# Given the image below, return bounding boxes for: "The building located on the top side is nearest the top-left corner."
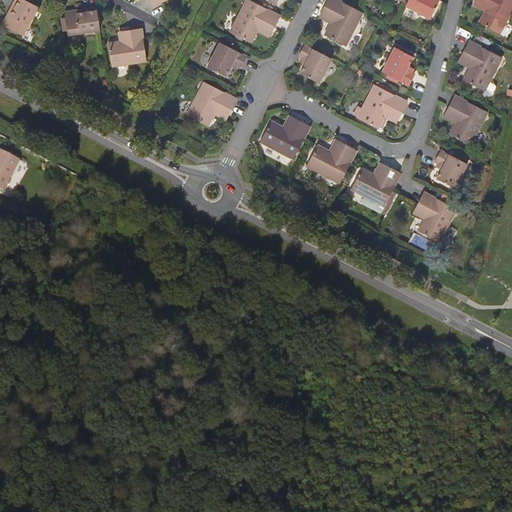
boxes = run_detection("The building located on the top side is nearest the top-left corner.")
[4,0,41,34]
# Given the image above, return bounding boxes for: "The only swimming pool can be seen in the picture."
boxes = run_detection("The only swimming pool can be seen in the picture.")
[409,232,430,250]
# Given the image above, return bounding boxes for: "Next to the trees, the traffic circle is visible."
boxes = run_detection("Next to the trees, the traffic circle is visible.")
[192,172,232,212]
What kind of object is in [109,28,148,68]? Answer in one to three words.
house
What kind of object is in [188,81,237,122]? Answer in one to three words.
house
